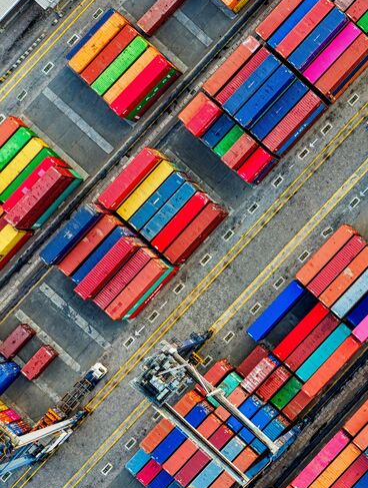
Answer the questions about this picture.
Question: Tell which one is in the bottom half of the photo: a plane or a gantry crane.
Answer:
gantry crane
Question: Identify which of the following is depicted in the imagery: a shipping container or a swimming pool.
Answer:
shipping container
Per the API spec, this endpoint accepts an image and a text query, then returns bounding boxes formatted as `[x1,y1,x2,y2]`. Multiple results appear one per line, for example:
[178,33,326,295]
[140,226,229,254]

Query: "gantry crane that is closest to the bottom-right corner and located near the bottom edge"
[119,329,311,488]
